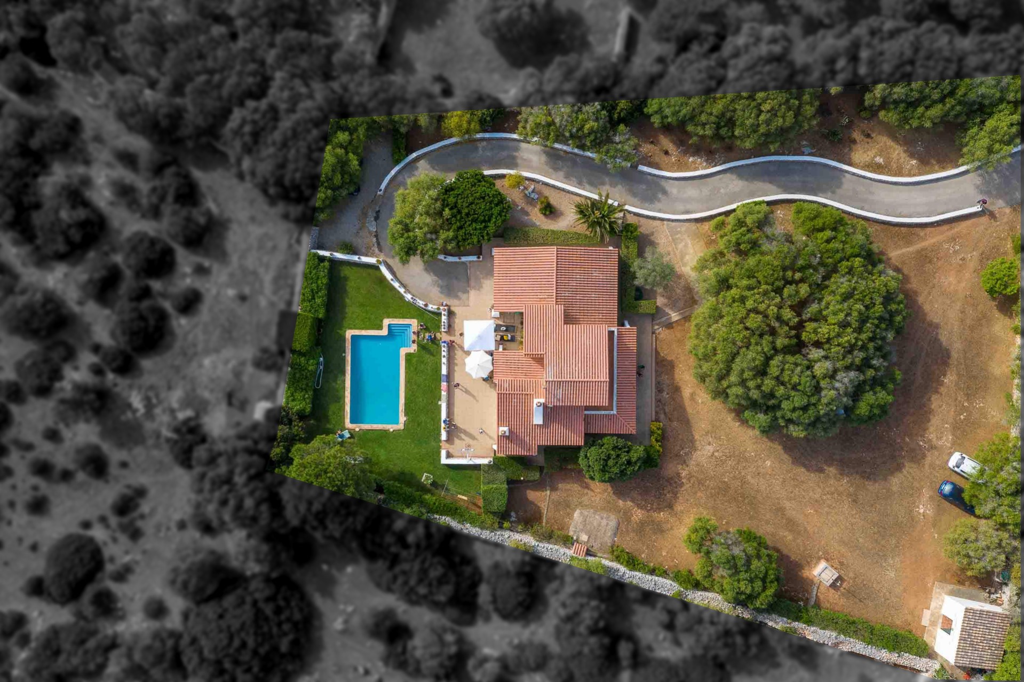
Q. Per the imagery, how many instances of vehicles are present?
2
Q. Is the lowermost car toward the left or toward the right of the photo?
right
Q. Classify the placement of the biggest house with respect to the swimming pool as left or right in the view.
to its right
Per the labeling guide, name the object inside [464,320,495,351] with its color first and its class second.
white gazebo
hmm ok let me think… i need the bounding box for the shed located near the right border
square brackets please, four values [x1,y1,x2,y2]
[938,596,1012,669]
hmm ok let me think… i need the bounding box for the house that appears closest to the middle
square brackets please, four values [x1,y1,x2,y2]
[491,246,638,456]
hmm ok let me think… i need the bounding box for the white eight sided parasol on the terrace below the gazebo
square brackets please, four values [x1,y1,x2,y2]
[464,350,494,380]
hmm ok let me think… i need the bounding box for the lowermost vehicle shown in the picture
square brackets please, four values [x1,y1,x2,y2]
[939,480,975,514]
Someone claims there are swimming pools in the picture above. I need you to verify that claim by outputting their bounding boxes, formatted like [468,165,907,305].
[346,319,417,432]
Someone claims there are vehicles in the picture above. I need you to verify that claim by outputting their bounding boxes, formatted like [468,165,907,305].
[939,480,975,514]
[950,452,990,483]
